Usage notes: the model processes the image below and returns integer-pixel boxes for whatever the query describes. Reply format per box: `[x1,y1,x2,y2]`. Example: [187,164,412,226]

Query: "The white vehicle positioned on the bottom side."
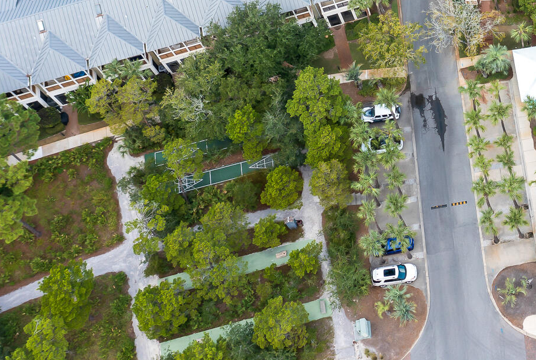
[370,262,418,287]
